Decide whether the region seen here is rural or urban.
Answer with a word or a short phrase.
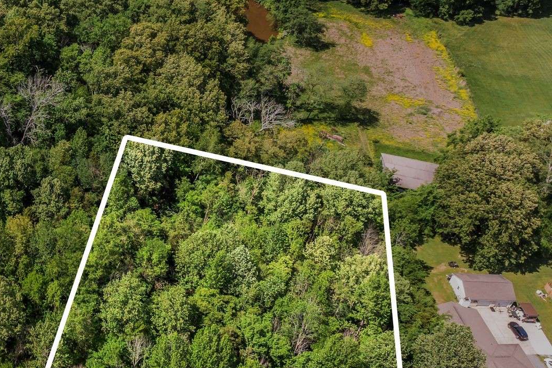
rural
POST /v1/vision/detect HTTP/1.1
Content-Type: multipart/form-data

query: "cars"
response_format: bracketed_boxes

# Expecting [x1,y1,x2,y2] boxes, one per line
[506,322,530,342]
[542,357,552,368]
